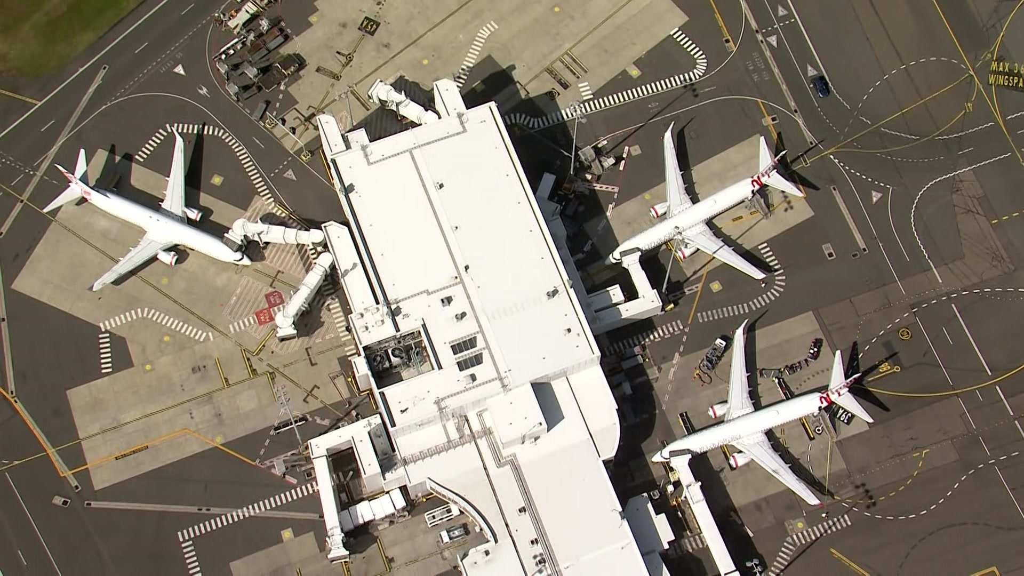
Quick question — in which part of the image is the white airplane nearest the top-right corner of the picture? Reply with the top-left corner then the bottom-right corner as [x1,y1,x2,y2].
[604,121,805,279]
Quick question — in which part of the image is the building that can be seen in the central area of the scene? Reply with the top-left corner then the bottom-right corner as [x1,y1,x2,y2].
[308,79,675,576]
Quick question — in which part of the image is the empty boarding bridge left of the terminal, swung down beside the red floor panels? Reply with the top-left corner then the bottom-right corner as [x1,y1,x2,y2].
[275,254,334,345]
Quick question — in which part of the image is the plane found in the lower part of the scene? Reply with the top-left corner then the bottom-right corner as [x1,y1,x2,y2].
[652,319,874,505]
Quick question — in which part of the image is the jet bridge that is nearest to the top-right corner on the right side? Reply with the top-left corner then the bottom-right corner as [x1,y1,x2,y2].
[620,249,651,300]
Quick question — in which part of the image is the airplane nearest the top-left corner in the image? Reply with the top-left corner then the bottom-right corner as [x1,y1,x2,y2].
[44,126,253,292]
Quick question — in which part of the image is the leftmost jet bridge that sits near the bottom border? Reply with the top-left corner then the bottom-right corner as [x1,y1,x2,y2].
[311,458,351,562]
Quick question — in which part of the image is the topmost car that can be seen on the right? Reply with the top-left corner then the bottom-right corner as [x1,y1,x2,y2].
[814,76,828,96]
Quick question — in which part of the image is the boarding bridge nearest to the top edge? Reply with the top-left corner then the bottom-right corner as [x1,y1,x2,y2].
[368,79,440,125]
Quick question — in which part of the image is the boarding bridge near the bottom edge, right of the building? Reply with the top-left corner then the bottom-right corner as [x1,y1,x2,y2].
[669,449,737,576]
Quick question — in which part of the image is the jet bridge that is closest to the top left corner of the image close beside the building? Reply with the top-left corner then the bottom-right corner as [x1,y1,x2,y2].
[223,217,327,258]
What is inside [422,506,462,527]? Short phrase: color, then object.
white truck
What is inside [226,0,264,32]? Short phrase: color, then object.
white truck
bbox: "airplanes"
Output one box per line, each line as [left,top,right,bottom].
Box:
[44,126,253,292]
[604,121,805,279]
[652,319,874,505]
